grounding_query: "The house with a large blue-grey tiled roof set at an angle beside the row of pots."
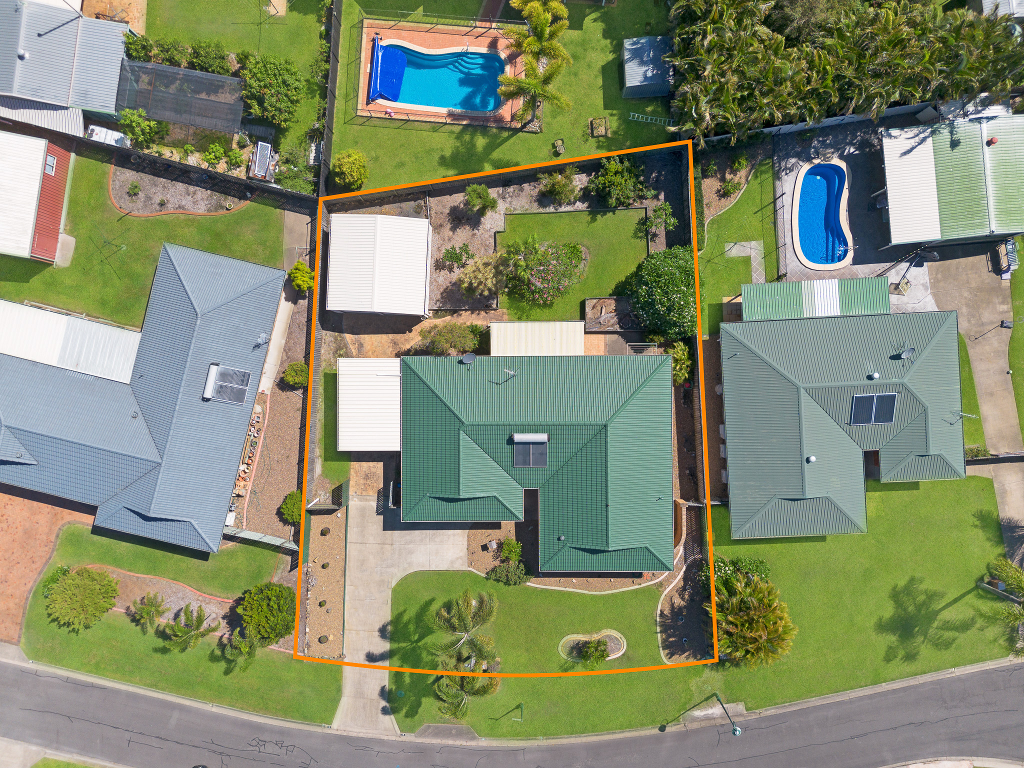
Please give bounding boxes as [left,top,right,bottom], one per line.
[0,241,288,555]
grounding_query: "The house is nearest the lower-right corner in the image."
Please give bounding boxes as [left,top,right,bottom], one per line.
[717,309,968,542]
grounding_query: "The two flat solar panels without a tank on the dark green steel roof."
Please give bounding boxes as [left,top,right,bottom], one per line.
[852,393,898,426]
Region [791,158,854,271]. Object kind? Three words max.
swimming pool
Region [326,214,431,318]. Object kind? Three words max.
building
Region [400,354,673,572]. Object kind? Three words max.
building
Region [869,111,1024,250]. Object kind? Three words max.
shed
